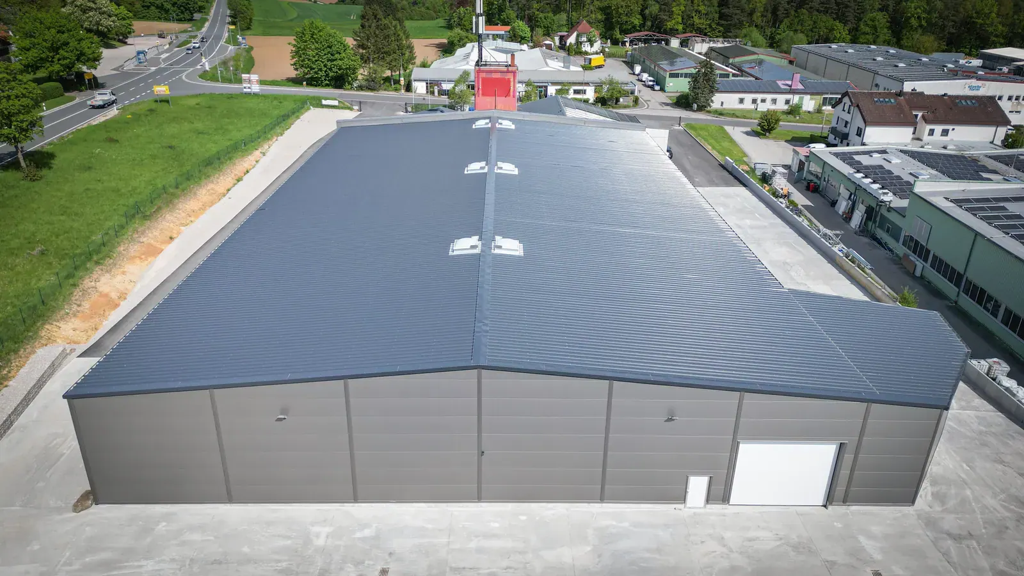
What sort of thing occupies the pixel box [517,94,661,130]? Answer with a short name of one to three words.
building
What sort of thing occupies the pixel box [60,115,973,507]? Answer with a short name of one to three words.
building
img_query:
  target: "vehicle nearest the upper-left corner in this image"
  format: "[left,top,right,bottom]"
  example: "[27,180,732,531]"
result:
[88,89,115,106]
